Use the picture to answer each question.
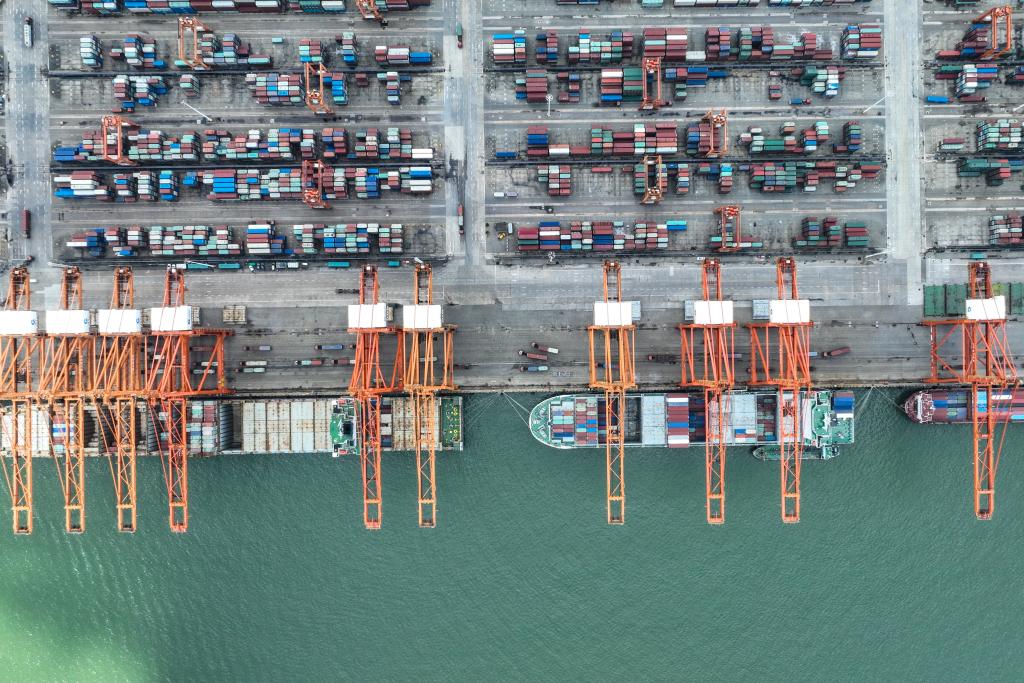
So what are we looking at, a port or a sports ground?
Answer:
port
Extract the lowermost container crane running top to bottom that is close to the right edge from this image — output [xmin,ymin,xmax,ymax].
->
[916,260,1024,522]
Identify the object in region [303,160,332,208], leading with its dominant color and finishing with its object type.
red container crane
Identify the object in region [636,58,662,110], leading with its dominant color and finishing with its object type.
red container crane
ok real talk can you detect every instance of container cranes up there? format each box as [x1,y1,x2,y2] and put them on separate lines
[401,261,458,530]
[671,258,736,524]
[916,260,1024,522]
[178,17,214,70]
[35,269,127,534]
[102,116,140,165]
[304,62,334,114]
[360,0,386,19]
[303,160,332,208]
[580,259,637,525]
[697,108,727,158]
[740,257,818,523]
[144,267,235,534]
[636,58,662,110]
[88,268,178,534]
[0,269,85,535]
[348,262,407,530]
[636,155,663,204]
